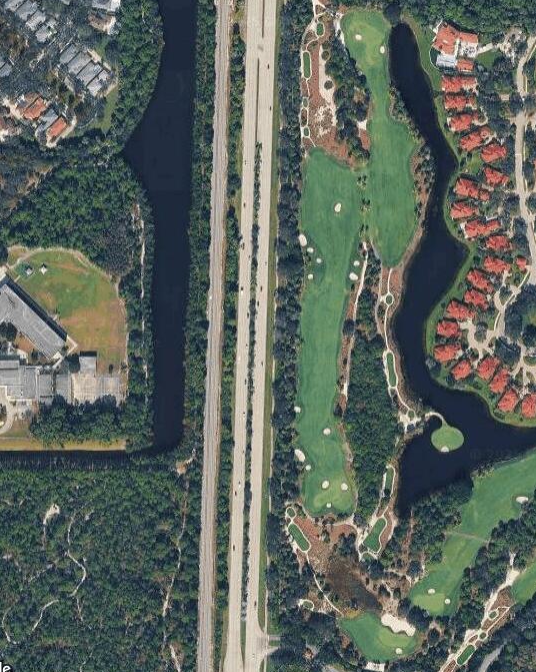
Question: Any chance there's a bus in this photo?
No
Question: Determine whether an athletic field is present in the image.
Yes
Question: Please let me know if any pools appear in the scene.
No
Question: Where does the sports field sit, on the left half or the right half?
left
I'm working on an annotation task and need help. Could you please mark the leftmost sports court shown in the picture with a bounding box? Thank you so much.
[72,377,97,399]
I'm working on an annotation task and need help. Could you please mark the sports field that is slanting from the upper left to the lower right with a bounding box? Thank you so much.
[7,247,128,378]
